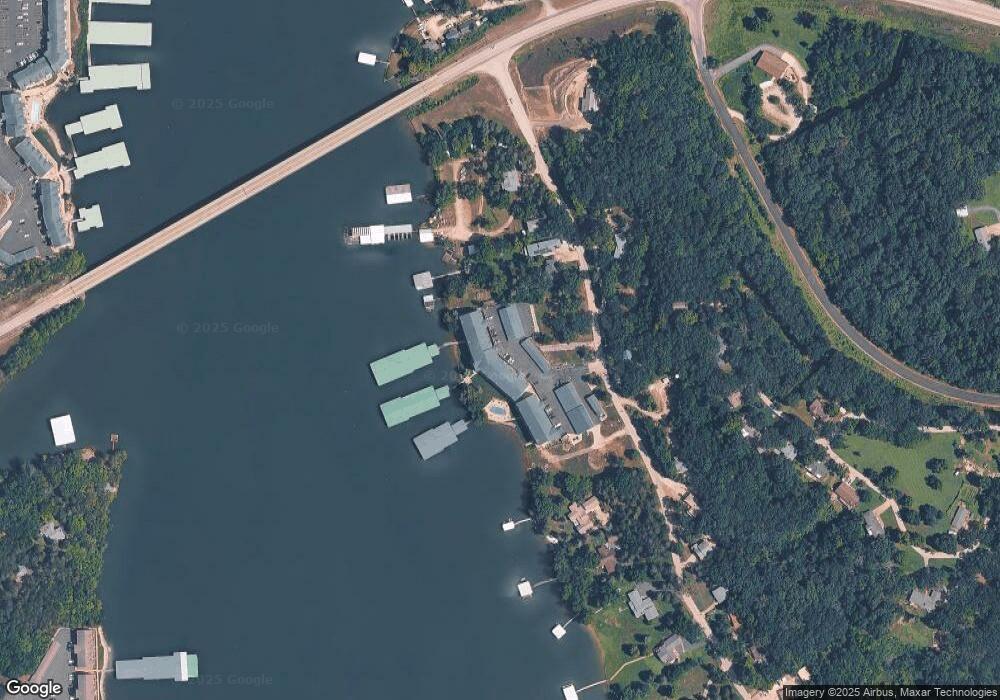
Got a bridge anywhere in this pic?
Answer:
Yes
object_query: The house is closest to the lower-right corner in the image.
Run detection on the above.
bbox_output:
[910,589,942,612]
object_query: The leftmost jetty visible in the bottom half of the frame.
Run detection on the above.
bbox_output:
[51,414,76,455]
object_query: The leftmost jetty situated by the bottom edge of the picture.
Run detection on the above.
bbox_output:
[104,655,175,679]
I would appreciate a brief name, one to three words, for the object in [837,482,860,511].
house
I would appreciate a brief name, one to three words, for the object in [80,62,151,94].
pier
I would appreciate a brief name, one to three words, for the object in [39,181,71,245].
building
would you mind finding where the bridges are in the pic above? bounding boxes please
[77,88,419,292]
